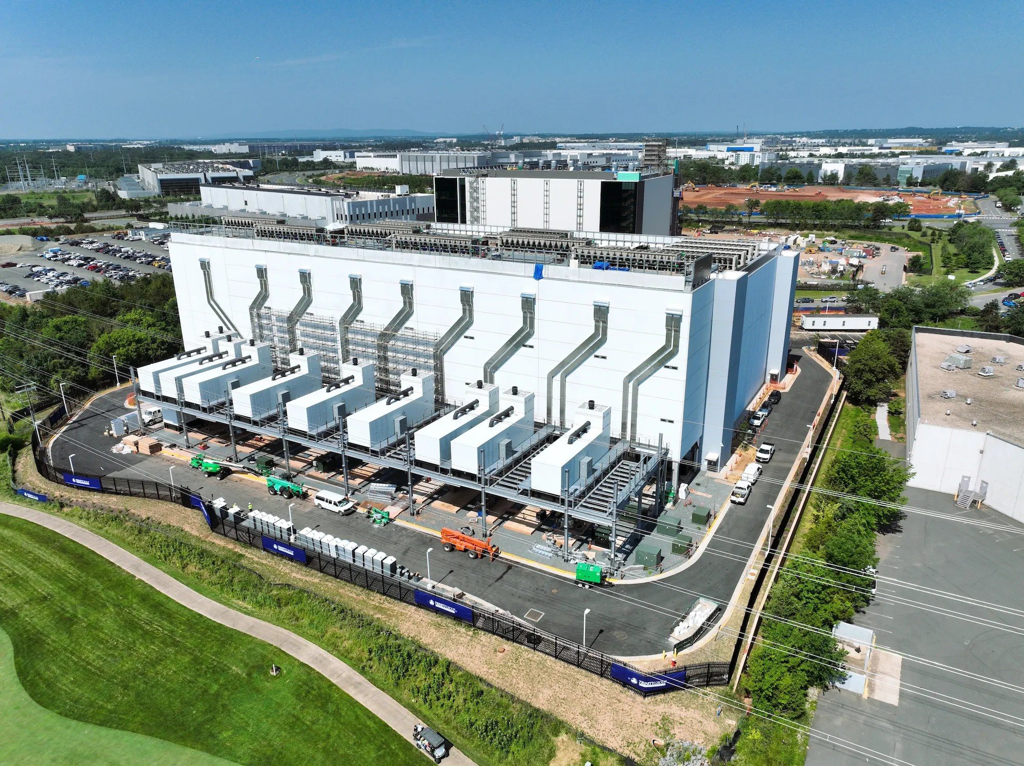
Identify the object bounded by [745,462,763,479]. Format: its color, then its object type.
white car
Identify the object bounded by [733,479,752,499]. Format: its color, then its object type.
white vehicle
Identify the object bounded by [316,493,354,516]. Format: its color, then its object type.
white vehicle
